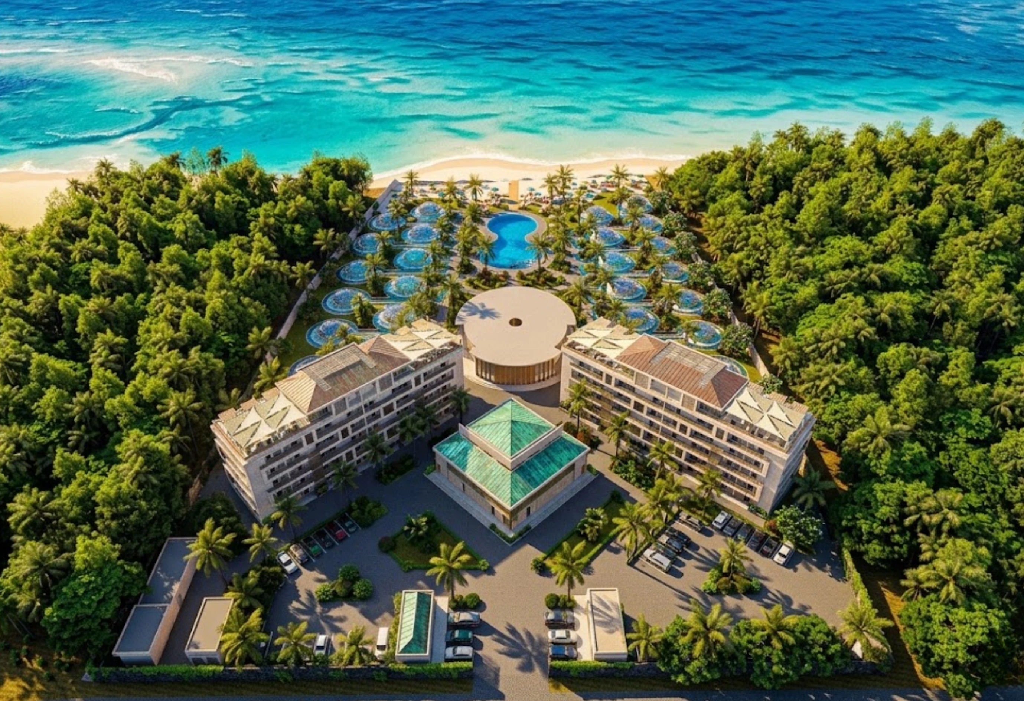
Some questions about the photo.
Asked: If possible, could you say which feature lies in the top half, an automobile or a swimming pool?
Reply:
swimming pool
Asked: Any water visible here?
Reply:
Yes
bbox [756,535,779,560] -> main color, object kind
black car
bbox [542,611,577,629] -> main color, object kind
gray car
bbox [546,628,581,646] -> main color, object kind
white car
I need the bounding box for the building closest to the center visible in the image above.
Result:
[454,290,576,392]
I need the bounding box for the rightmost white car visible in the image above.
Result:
[772,542,795,567]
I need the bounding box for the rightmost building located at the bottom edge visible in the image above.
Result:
[588,587,627,666]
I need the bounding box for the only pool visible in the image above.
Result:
[480,212,544,270]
